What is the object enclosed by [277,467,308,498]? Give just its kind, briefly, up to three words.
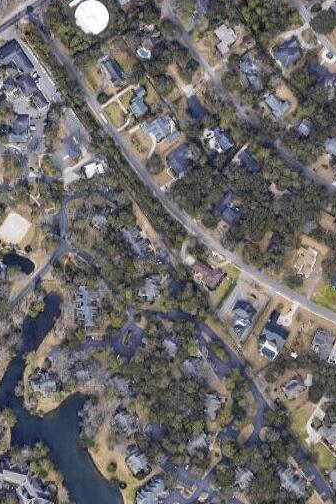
house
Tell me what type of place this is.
residential area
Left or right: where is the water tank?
left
